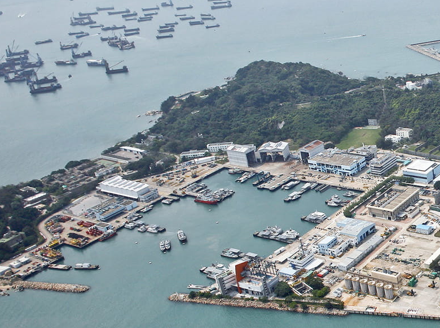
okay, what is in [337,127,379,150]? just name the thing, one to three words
sports field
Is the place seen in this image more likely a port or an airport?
port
